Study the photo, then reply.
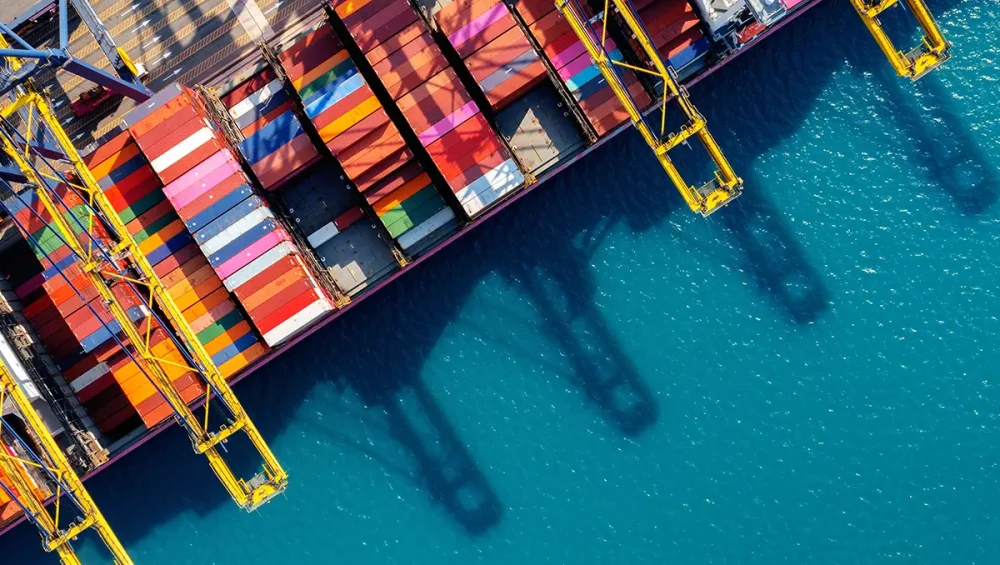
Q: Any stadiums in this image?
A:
No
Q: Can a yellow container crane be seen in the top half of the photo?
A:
Yes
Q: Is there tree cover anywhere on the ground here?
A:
No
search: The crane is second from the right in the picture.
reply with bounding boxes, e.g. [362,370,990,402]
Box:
[555,0,738,220]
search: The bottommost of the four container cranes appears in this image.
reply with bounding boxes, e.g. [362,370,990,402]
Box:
[0,367,127,565]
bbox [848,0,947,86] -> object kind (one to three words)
container crane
